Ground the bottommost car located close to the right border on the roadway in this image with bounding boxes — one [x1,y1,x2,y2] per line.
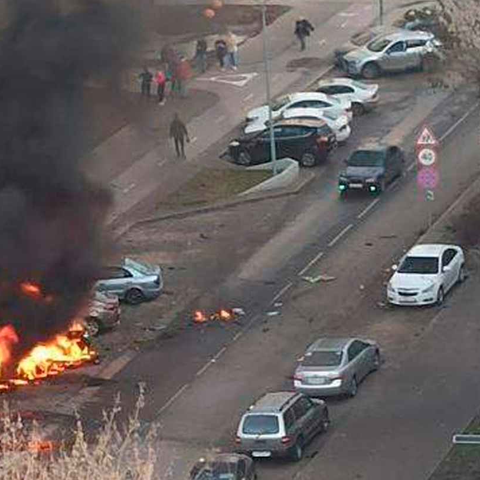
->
[386,239,467,302]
